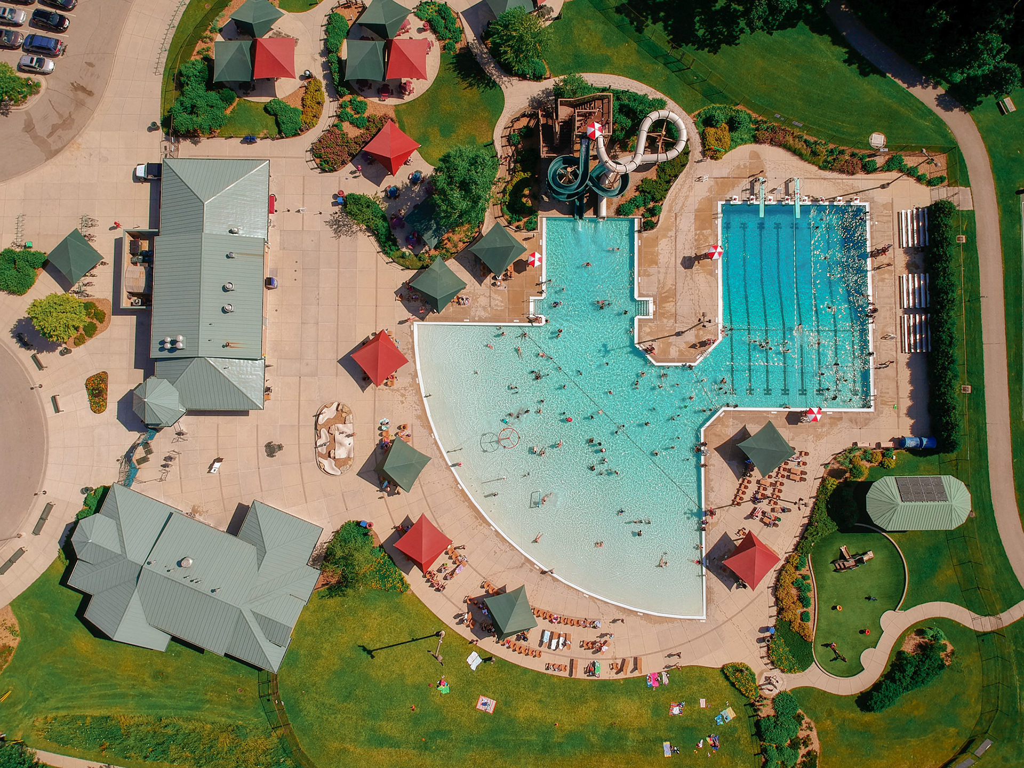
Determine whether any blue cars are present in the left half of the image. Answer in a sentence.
Yes, you'll find a blue car in the left half of the image.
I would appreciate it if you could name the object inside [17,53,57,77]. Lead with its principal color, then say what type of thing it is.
gray car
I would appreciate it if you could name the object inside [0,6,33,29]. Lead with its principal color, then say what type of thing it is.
gray car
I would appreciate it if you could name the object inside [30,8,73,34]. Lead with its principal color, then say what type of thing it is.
black car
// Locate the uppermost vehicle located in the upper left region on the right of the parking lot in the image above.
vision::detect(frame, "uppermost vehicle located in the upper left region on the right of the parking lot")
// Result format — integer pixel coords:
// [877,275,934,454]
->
[132,162,163,181]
